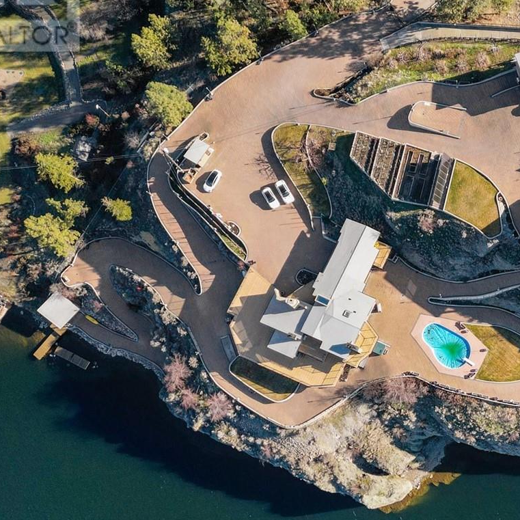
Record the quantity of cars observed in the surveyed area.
three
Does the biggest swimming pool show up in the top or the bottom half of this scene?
bottom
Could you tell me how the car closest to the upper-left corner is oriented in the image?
at an angle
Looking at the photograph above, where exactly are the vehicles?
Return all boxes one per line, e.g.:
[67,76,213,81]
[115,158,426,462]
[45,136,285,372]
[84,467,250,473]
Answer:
[273,177,294,205]
[200,168,222,193]
[259,183,280,209]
